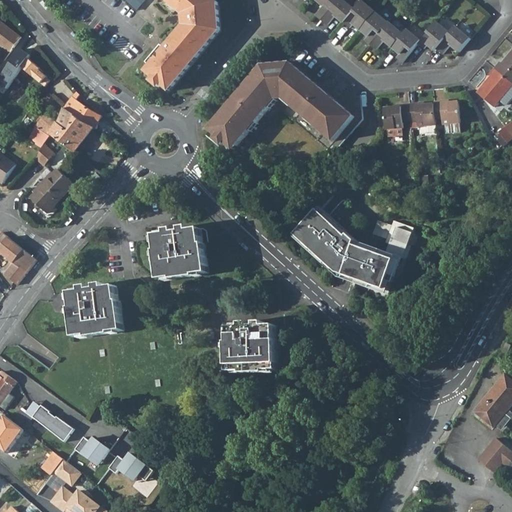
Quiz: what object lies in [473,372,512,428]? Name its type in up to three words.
house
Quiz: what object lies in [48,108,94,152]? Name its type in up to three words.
house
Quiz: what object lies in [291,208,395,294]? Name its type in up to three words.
building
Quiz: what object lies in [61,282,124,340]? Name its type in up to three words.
building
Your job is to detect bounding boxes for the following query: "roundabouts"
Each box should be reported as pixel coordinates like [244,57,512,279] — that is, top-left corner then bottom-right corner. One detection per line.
[133,110,196,176]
